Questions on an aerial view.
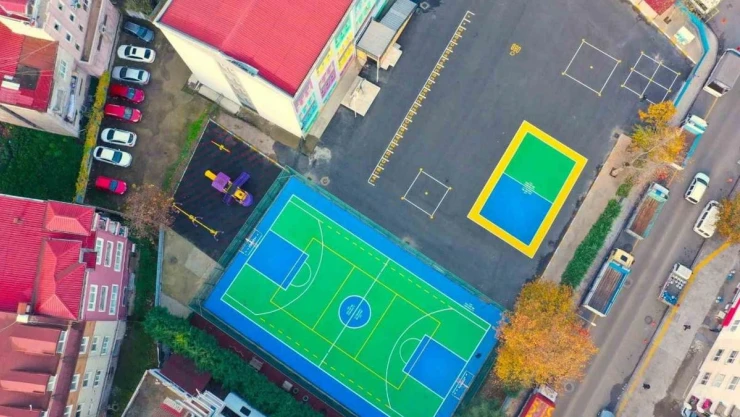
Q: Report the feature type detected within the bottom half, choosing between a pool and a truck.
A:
truck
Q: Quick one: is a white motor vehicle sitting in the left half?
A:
Yes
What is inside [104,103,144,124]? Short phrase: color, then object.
red car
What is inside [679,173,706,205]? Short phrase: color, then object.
white vehicle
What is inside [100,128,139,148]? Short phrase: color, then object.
white car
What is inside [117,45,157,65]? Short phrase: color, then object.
white car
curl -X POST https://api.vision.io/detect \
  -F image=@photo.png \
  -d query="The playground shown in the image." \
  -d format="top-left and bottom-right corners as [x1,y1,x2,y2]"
[160,119,285,263]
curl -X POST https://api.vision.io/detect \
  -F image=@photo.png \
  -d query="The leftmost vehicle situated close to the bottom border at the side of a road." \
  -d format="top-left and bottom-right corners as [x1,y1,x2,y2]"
[519,380,558,417]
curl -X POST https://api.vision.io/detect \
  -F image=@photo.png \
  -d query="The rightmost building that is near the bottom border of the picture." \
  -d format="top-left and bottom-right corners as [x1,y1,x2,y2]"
[681,305,740,417]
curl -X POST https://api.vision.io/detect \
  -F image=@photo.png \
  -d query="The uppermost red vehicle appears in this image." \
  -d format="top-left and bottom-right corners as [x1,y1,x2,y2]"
[110,85,147,106]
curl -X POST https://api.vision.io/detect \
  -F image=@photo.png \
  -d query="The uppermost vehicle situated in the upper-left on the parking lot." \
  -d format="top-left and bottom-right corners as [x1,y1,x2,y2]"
[121,20,157,45]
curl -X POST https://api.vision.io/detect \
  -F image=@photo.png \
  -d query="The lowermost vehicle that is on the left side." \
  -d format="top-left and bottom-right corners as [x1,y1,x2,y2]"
[94,175,130,197]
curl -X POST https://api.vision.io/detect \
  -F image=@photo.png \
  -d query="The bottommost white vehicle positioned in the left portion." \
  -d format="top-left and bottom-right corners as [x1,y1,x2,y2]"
[94,145,134,168]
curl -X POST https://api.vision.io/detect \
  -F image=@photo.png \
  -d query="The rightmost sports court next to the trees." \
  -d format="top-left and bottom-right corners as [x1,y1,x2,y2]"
[465,121,588,259]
